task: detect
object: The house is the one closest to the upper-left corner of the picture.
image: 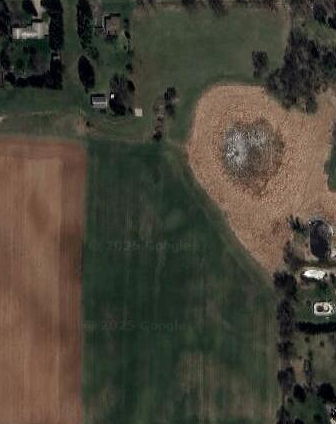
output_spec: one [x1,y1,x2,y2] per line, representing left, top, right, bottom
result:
[12,19,46,37]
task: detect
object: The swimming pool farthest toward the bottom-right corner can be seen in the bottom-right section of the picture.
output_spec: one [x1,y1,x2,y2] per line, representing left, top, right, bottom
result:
[313,302,331,316]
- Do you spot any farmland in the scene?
Yes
